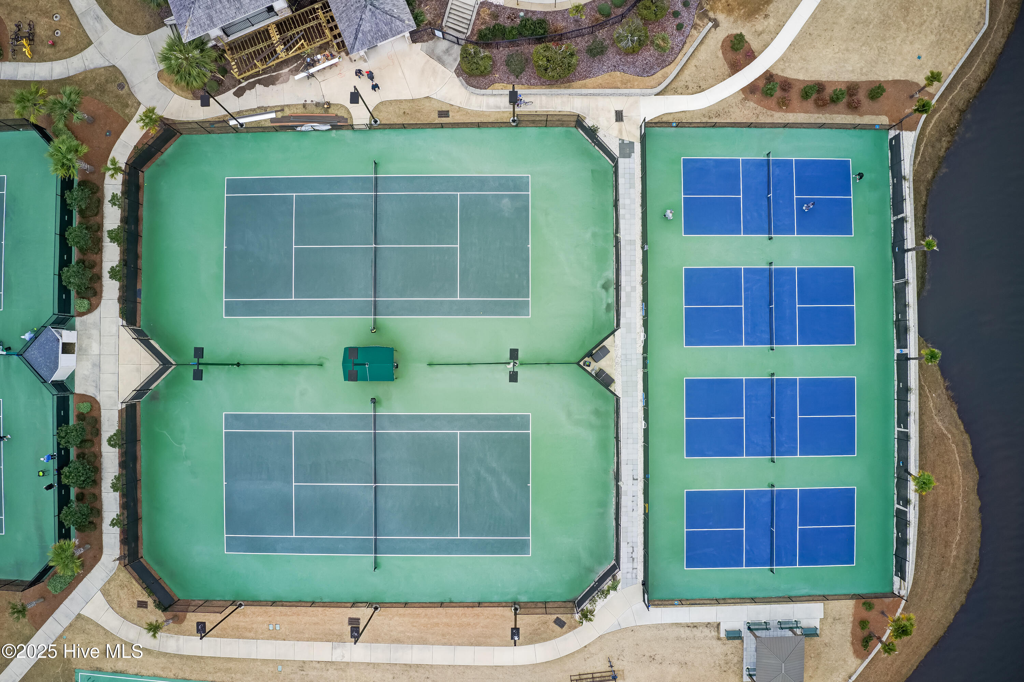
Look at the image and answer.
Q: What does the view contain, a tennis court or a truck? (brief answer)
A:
tennis court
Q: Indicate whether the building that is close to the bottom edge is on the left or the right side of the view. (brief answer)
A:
right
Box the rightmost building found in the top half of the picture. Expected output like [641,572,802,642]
[327,0,417,57]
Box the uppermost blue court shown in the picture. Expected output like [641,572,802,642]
[681,157,854,236]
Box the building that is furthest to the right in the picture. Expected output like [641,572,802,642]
[750,629,807,682]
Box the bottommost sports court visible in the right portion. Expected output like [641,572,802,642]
[685,487,857,570]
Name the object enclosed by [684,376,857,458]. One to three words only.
sports court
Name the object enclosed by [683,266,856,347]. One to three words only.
sports court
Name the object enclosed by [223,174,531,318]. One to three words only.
tennis court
